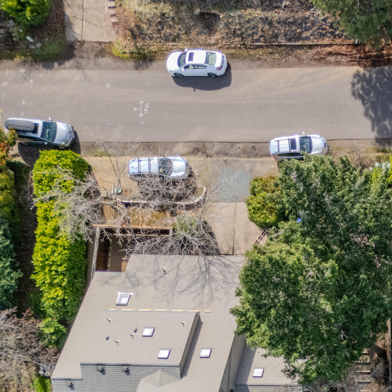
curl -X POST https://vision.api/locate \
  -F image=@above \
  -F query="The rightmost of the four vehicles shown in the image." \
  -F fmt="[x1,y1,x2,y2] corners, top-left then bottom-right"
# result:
[268,133,331,163]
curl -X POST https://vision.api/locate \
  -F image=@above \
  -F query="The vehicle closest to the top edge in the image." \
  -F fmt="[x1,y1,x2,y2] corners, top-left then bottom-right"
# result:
[167,49,230,82]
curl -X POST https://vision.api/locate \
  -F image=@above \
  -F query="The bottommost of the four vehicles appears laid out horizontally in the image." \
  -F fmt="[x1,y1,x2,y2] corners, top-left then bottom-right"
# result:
[125,156,191,185]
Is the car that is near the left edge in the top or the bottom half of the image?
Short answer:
top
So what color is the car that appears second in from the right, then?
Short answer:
white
